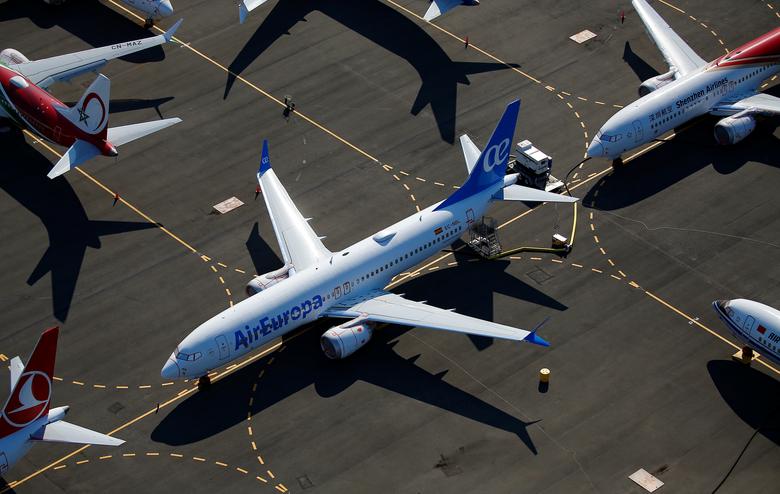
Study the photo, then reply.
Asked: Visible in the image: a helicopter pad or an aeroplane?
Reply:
aeroplane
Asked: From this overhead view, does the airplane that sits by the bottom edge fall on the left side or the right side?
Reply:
left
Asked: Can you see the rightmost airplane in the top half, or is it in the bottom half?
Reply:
bottom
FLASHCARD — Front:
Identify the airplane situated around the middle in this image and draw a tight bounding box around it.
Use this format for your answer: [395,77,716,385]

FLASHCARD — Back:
[161,99,580,385]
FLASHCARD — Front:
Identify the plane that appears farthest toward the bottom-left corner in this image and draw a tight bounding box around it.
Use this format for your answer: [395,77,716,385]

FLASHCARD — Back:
[0,328,126,473]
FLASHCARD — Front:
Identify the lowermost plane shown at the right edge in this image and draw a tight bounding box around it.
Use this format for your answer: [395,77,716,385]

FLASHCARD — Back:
[711,300,780,368]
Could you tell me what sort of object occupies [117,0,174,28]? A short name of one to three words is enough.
airplane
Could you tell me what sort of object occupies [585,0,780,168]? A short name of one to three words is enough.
airplane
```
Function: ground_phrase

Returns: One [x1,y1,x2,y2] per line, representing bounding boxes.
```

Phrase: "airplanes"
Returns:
[117,0,174,28]
[0,328,126,473]
[161,99,580,385]
[711,300,780,368]
[585,0,780,168]
[0,18,185,179]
